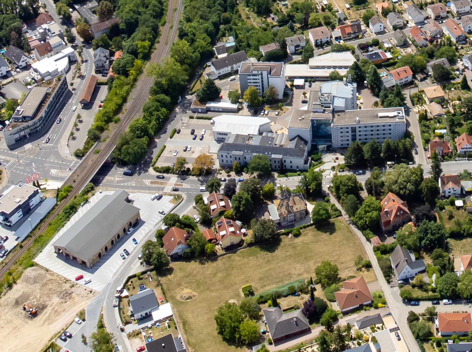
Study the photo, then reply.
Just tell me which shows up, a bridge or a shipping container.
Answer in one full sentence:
Visible in the photo is a bridge.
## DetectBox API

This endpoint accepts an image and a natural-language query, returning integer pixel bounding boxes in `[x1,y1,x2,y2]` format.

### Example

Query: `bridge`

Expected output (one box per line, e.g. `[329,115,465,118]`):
[64,146,114,193]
